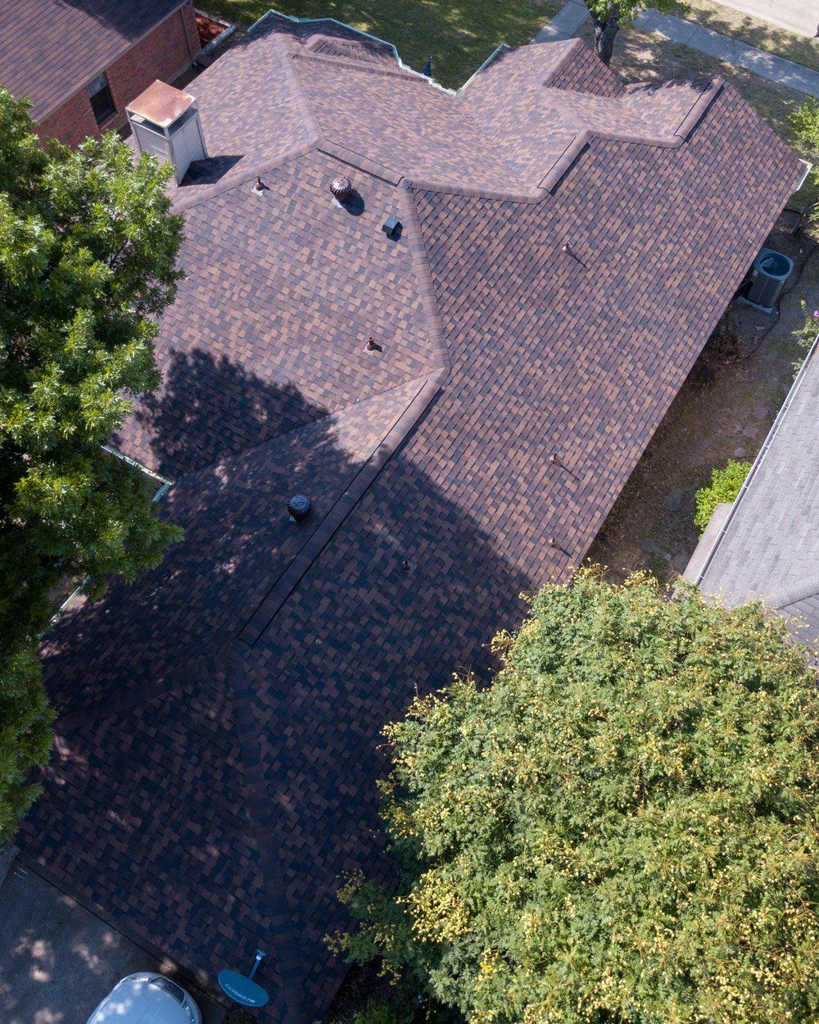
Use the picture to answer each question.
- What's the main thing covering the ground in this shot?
buildings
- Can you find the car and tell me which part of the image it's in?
bottom left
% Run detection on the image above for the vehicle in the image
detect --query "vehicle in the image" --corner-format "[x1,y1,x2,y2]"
[83,970,202,1024]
